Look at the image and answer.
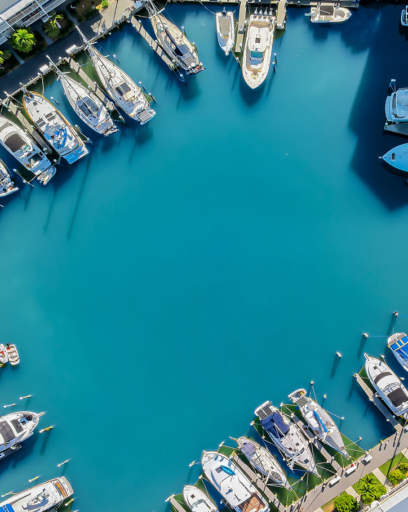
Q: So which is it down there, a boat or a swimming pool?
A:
boat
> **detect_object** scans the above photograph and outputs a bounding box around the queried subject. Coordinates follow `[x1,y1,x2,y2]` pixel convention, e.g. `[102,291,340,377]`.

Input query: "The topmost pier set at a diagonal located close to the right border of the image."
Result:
[355,375,403,430]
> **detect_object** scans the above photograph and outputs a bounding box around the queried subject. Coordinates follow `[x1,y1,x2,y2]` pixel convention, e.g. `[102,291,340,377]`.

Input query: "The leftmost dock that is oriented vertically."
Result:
[235,0,247,53]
